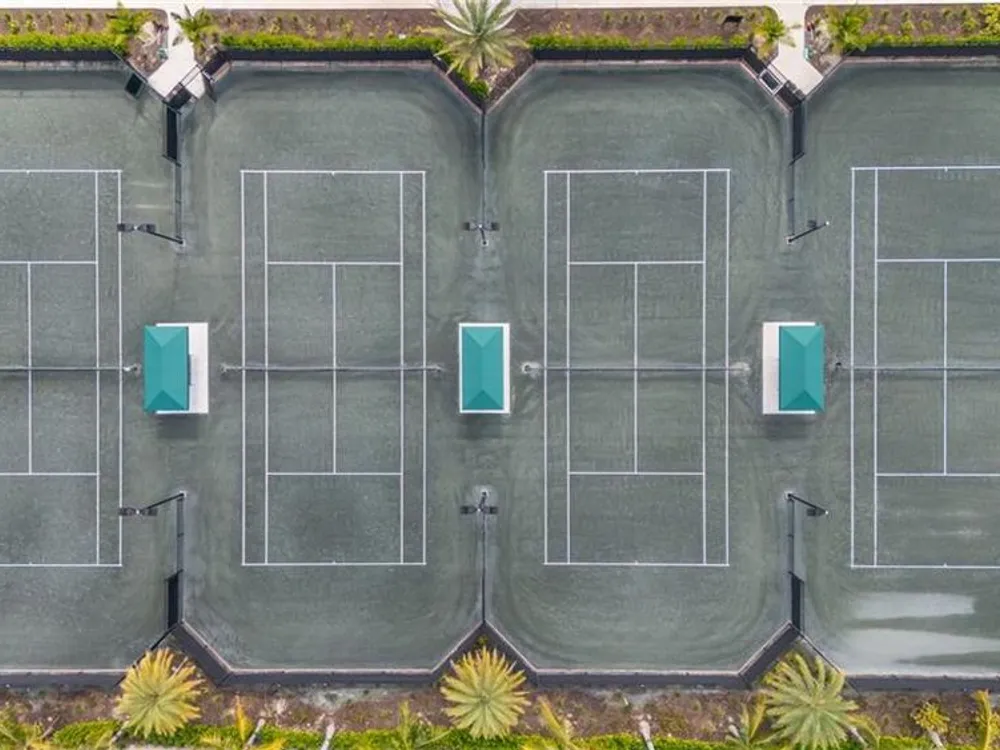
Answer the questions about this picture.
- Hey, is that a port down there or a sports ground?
sports ground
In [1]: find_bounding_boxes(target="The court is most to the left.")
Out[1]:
[0,62,183,672]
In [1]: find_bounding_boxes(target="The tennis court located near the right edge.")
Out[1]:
[790,57,1000,675]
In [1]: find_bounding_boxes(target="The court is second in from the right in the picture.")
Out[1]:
[484,59,790,674]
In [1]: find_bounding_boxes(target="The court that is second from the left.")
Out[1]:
[181,60,484,673]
